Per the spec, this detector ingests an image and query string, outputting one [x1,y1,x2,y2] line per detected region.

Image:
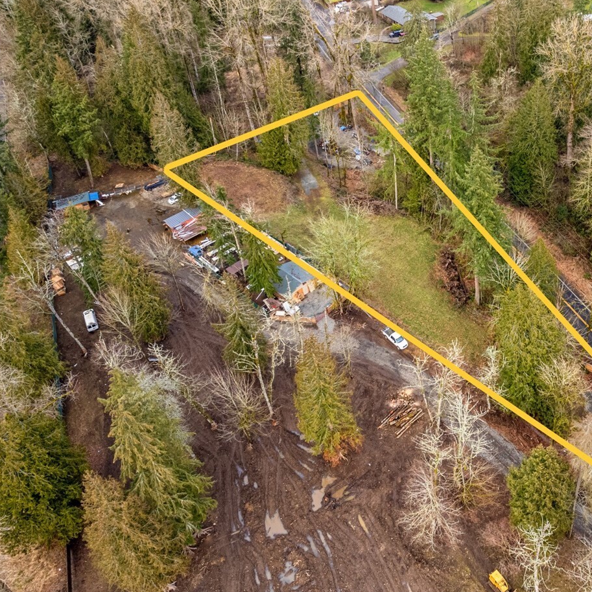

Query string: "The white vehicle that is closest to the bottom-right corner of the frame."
[381,327,407,347]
